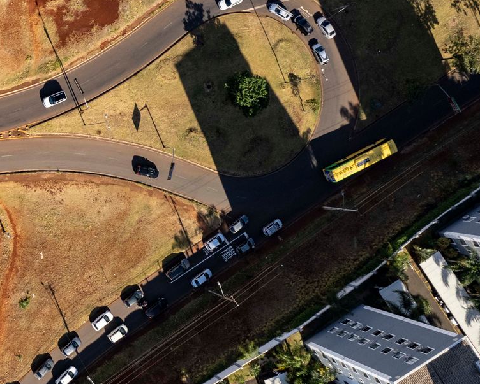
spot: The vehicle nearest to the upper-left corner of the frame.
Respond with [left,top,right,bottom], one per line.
[41,89,69,109]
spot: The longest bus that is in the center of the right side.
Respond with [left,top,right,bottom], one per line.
[314,137,400,185]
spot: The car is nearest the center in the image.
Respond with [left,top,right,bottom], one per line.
[226,212,249,236]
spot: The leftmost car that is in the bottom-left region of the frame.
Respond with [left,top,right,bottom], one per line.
[33,356,56,383]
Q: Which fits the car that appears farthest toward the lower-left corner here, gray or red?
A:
gray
